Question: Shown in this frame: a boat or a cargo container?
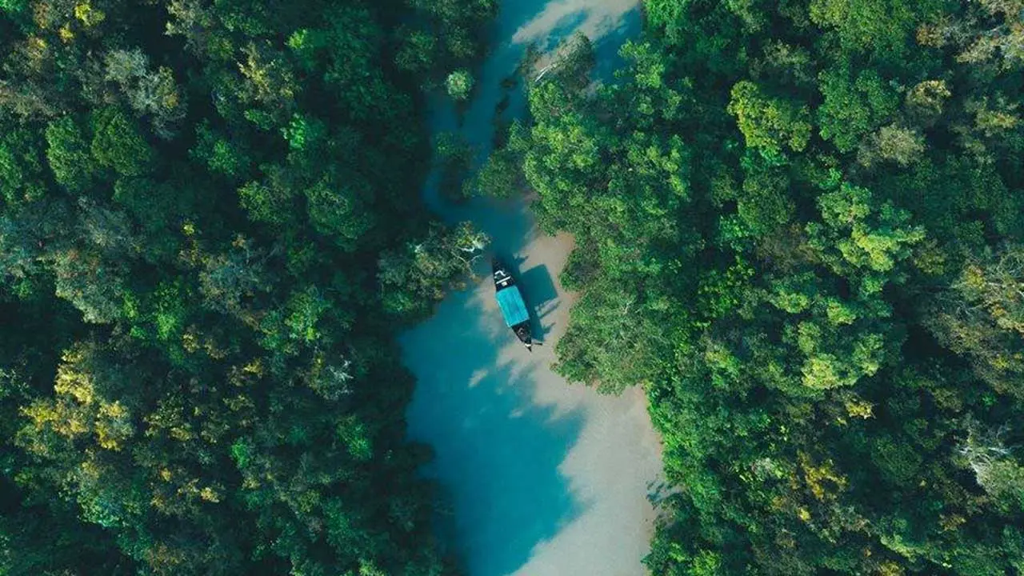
boat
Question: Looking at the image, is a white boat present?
No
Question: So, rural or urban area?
rural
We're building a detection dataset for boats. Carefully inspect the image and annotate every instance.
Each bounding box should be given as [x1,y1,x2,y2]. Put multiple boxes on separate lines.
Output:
[493,261,543,352]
